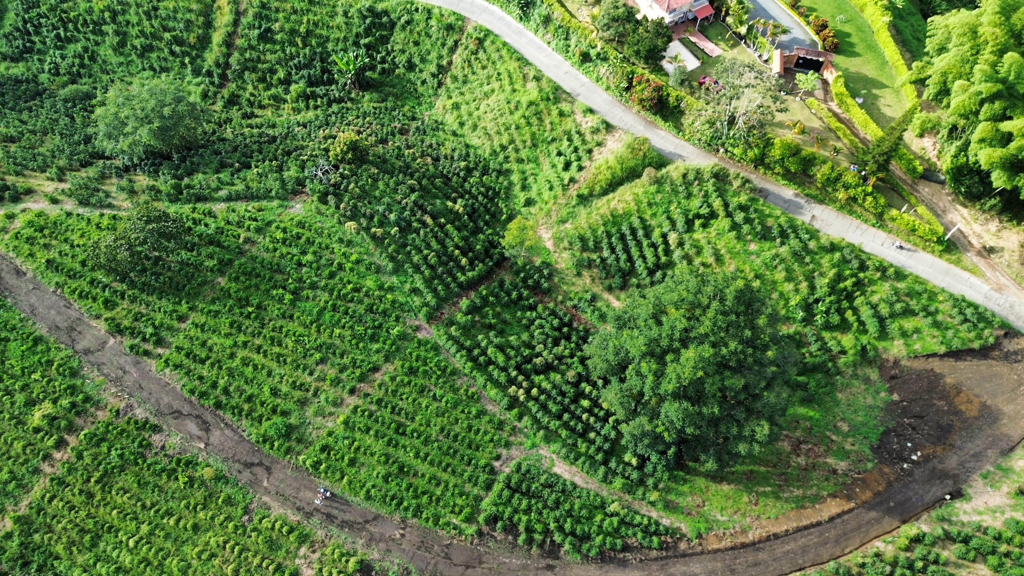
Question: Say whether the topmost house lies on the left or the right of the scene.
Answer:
right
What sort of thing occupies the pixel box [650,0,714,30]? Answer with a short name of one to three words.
house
